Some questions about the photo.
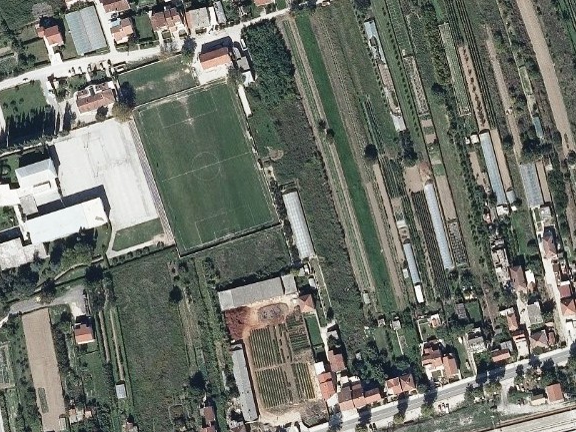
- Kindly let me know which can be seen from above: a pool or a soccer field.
soccer field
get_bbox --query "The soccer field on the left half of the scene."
[134,80,280,256]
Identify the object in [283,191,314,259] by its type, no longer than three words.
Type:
greenhouse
